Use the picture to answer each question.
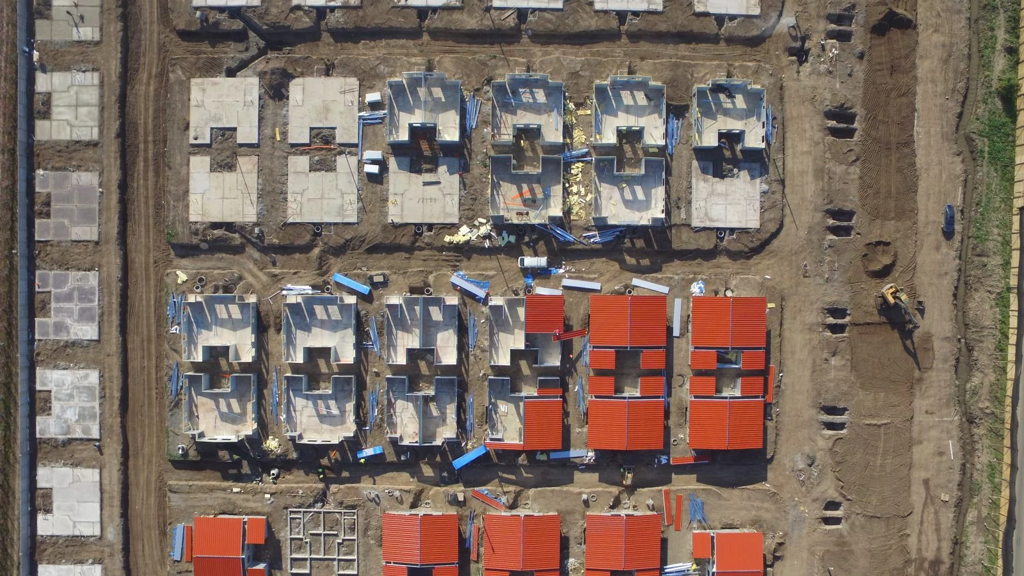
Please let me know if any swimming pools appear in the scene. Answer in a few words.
No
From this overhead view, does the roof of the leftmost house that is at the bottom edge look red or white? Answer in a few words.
red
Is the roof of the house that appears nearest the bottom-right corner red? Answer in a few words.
Yes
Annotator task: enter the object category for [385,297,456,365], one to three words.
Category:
house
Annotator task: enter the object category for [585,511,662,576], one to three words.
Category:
house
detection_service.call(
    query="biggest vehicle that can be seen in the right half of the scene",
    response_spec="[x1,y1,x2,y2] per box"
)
[873,285,920,333]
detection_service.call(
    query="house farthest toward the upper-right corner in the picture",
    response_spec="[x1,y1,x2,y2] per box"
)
[690,78,765,151]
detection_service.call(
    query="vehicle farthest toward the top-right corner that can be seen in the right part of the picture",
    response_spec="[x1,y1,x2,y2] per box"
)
[938,205,955,233]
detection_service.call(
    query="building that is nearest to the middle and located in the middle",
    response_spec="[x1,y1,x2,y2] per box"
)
[491,295,564,366]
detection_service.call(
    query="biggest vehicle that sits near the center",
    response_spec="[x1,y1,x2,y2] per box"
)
[518,255,548,268]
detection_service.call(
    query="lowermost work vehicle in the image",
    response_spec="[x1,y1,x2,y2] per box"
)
[620,462,633,483]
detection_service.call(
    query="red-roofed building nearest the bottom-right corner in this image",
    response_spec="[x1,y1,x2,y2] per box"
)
[691,528,768,576]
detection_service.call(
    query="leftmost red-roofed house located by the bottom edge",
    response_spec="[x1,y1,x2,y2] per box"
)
[191,515,271,576]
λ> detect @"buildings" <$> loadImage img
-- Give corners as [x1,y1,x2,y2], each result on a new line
[691,295,769,368]
[484,511,561,576]
[593,156,665,226]
[588,375,665,449]
[282,373,356,444]
[385,373,457,445]
[382,510,459,576]
[687,375,765,450]
[181,372,258,443]
[691,528,768,576]
[491,295,564,366]
[590,295,667,368]
[387,72,458,145]
[191,515,271,576]
[585,511,662,576]
[491,154,561,224]
[487,374,564,449]
[690,78,765,151]
[282,296,356,364]
[181,295,257,364]
[492,73,562,146]
[593,75,665,148]
[385,297,456,365]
